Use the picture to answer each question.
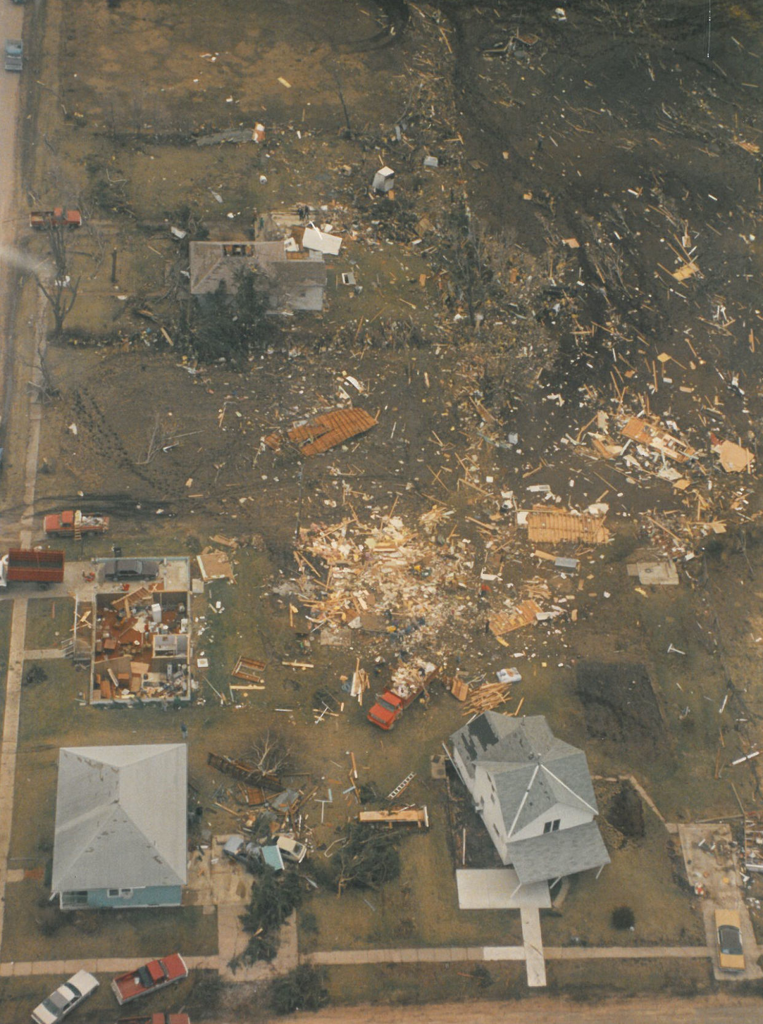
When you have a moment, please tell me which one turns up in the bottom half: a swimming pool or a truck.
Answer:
truck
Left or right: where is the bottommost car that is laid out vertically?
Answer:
right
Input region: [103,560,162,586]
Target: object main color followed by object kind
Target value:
gray car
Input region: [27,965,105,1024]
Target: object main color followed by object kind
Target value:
white car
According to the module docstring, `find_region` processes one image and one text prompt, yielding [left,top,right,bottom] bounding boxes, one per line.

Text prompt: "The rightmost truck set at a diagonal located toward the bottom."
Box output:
[368,656,448,735]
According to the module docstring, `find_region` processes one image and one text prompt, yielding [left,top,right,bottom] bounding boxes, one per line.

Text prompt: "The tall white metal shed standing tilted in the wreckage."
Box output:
[373,167,393,196]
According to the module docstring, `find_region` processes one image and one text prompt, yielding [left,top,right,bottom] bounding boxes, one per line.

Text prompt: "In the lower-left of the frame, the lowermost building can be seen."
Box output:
[50,741,188,906]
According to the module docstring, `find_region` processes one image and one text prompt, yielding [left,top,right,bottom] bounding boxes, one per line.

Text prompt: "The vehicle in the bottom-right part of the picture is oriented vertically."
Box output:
[713,909,744,977]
